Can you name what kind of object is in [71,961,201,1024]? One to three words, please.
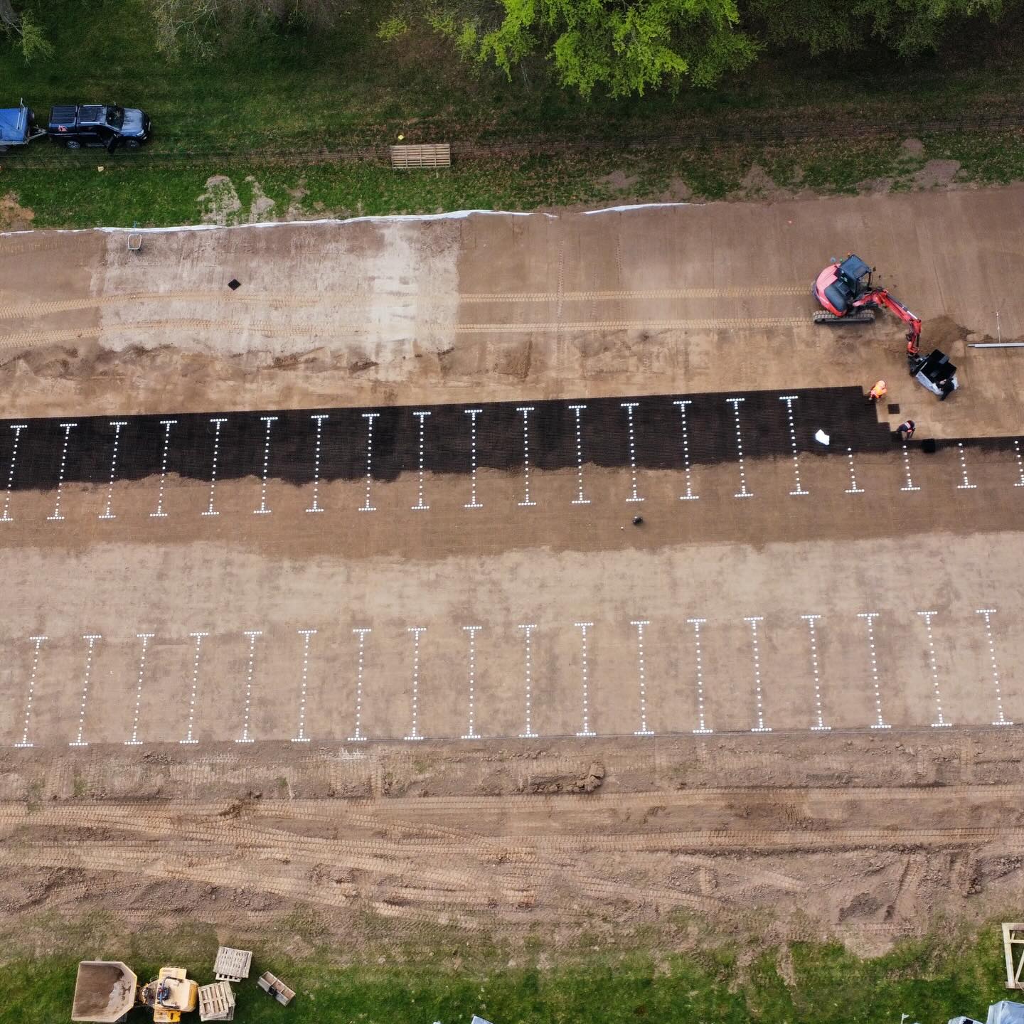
truck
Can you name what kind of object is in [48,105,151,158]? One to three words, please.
truck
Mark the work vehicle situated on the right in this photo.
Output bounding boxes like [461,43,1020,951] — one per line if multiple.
[813,255,928,381]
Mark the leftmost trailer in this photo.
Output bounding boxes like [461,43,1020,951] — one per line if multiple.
[0,102,50,148]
